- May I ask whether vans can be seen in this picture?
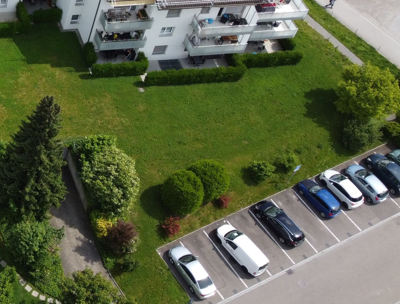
Yes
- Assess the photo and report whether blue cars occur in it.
Yes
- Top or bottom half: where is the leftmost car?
bottom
